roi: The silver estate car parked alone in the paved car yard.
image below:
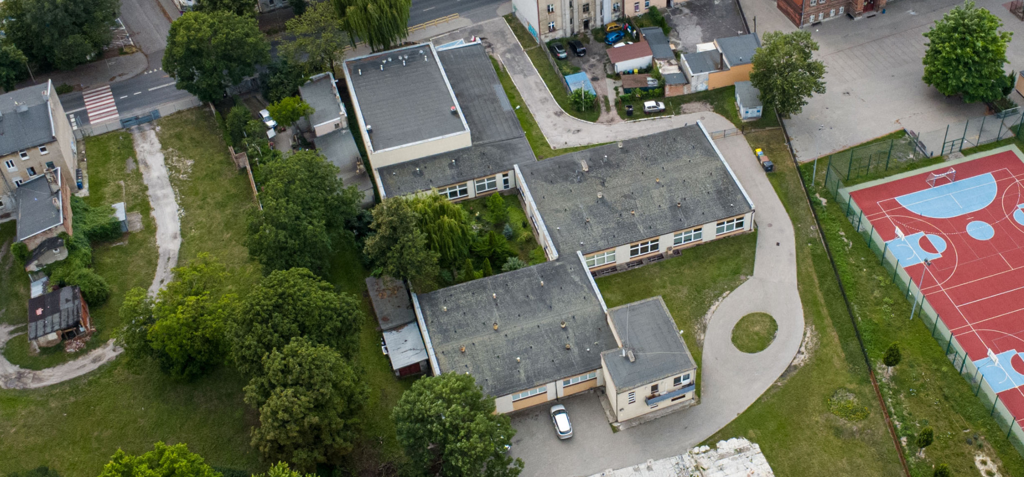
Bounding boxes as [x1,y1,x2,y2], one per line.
[548,403,573,440]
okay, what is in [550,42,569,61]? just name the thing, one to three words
car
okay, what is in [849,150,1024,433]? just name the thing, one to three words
sports court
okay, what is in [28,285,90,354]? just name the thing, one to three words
shed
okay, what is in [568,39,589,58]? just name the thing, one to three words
car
